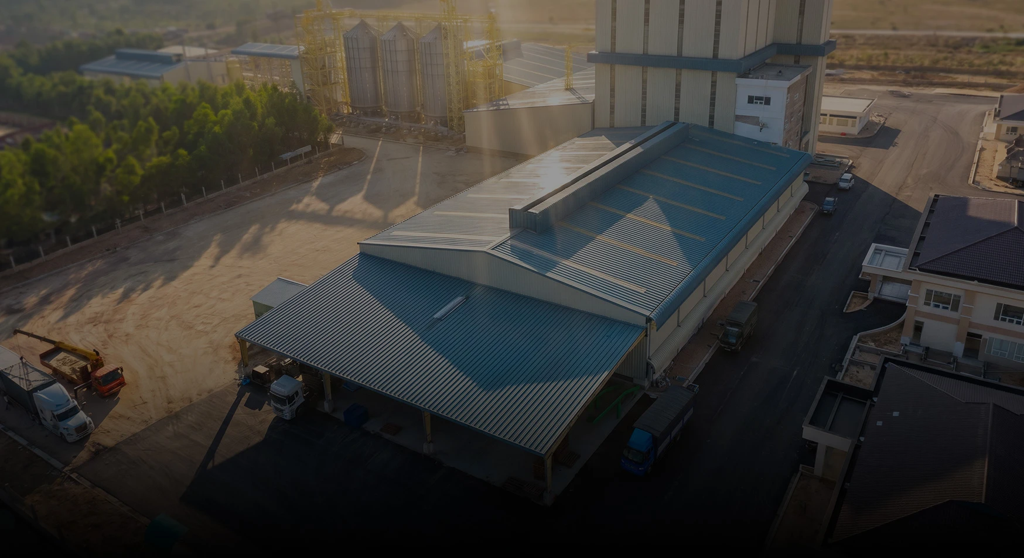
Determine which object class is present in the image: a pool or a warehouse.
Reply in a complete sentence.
This aerial view contains a warehouse.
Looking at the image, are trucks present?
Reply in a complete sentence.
Yes, there's a truck down there.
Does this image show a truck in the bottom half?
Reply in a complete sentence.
Yes, a truck can be seen in the bottom half.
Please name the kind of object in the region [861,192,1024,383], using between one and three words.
house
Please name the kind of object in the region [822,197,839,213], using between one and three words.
vehicle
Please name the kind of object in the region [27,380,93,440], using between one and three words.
truck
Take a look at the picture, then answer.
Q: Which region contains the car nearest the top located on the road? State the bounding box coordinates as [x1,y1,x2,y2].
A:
[838,173,853,188]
